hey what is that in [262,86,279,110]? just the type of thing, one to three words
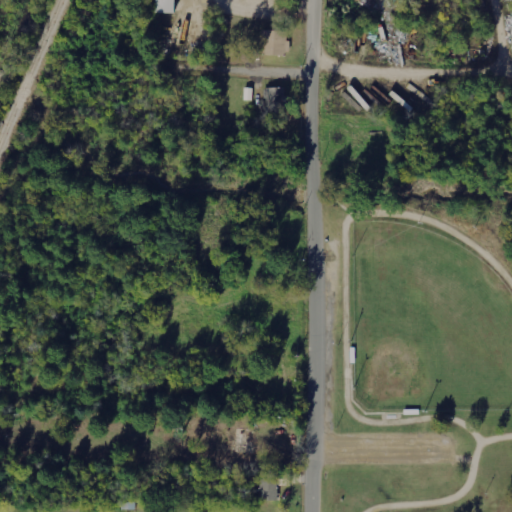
house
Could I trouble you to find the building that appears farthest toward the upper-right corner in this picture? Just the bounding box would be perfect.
[266,31,290,55]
